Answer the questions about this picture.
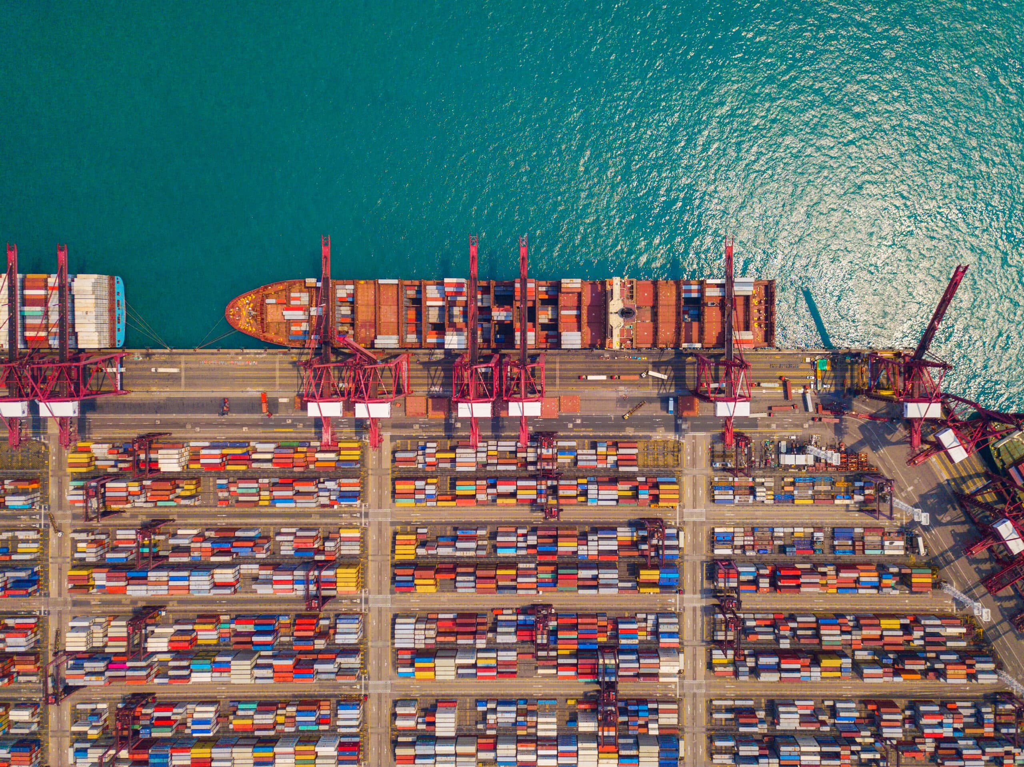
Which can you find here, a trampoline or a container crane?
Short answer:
container crane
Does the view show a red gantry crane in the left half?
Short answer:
Yes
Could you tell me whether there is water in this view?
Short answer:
Yes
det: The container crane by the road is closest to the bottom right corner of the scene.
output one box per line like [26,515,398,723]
[982,690,1024,753]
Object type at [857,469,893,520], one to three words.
container crane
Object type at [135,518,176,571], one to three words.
container crane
